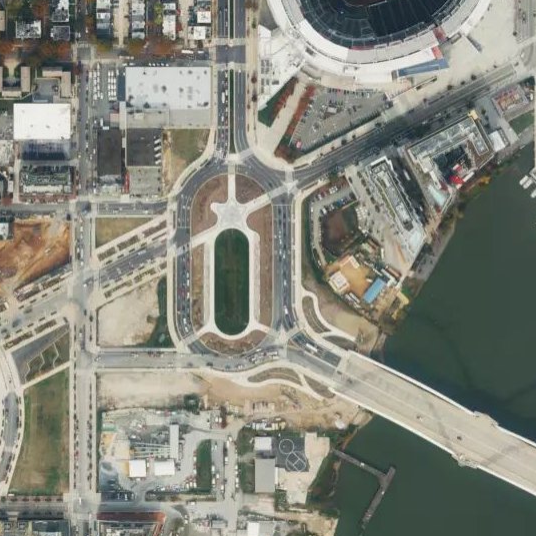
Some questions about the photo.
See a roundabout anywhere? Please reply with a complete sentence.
Yes, you can see a roundabout in this photo.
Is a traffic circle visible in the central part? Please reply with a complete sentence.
Yes, you'll find a traffic circle in the central part.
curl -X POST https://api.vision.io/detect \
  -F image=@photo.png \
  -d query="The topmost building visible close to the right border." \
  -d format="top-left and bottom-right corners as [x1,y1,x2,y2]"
[492,87,529,118]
